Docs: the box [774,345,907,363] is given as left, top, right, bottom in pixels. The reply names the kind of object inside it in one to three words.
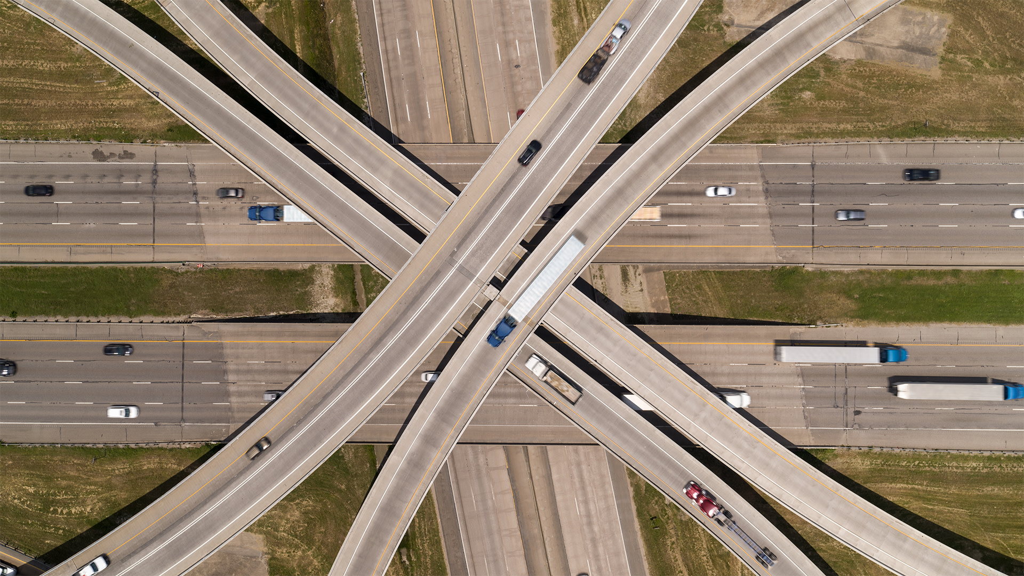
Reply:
vehicle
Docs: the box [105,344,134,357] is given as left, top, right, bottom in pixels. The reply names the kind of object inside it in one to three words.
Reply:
vehicle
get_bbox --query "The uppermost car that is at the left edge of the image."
[27,184,53,197]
